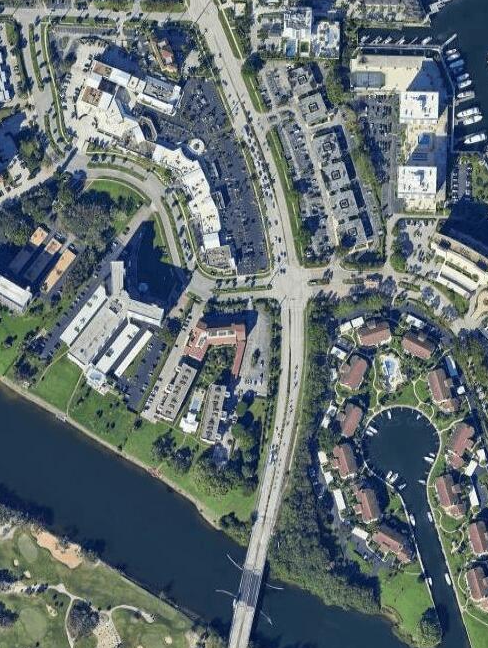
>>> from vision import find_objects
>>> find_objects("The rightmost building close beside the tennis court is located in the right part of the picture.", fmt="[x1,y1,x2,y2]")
[400,92,438,128]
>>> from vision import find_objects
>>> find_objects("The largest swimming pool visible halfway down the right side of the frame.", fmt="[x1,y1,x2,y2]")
[380,352,402,387]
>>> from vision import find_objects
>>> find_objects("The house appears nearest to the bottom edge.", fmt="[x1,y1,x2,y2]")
[465,567,488,610]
